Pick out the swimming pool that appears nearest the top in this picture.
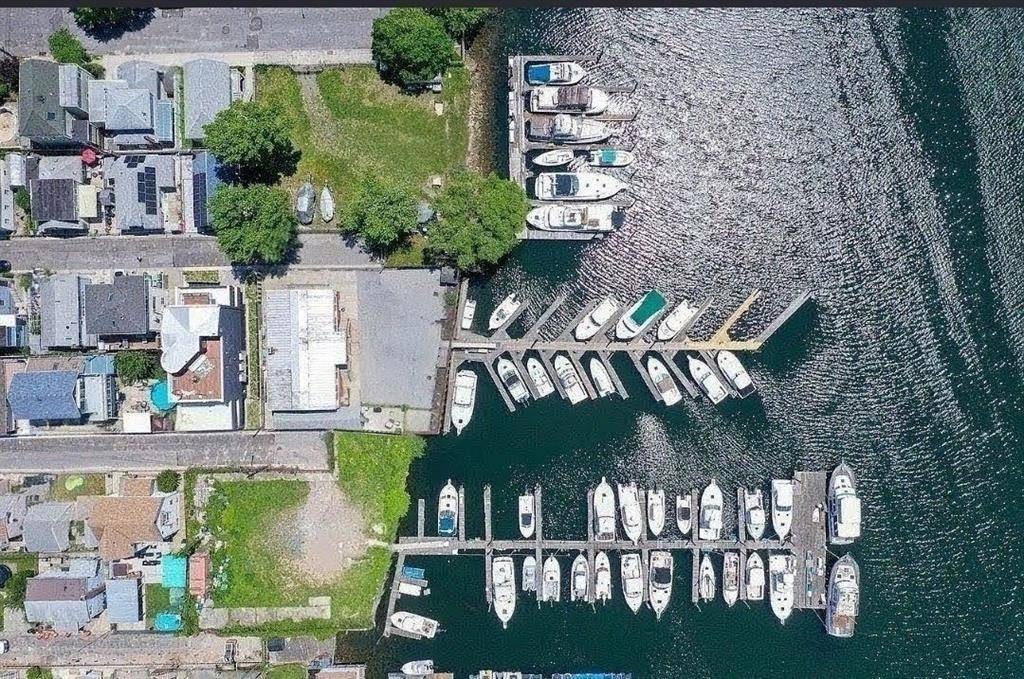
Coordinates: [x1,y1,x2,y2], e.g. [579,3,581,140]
[148,382,175,410]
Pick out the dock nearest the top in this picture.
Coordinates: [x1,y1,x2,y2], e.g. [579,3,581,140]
[509,51,641,239]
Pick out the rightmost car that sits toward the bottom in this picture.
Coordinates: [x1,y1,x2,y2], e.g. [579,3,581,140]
[268,638,287,650]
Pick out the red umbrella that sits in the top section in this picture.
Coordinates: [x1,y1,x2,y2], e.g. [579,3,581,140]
[84,149,99,163]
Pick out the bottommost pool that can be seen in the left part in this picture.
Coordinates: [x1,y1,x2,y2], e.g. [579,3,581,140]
[155,611,183,631]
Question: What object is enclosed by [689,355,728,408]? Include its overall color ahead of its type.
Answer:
white boat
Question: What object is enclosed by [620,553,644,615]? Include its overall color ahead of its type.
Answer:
white boat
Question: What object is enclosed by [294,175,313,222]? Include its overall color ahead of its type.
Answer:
gray boat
